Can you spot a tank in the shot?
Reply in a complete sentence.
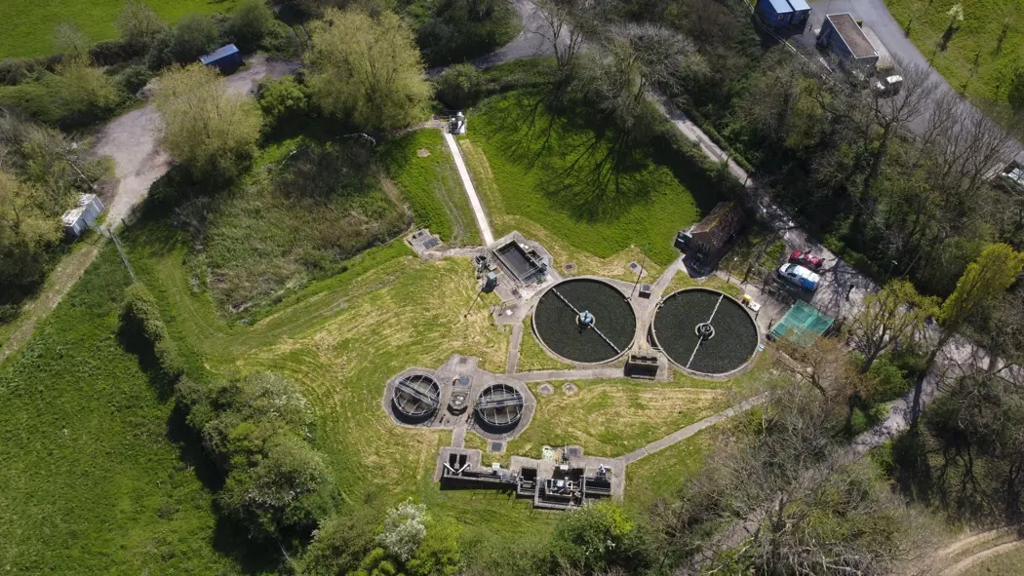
Yes, the picture does show a tank.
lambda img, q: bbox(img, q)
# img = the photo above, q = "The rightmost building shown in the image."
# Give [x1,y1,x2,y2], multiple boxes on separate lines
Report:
[812,11,880,83]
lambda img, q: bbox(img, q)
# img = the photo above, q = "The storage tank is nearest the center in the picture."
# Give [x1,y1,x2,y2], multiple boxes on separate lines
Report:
[493,240,541,284]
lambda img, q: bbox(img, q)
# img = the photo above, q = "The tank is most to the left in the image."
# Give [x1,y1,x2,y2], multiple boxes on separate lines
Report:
[393,372,441,420]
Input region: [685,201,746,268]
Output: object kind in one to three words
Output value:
house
